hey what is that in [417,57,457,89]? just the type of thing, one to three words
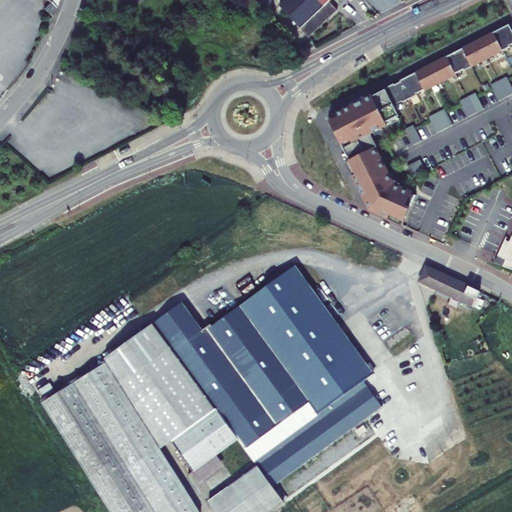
house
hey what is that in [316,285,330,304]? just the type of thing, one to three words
vehicle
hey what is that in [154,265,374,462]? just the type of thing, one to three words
building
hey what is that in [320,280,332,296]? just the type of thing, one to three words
vehicle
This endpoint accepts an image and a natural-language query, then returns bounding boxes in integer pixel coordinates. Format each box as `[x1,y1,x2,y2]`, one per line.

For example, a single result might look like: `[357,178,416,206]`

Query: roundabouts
[208,78,284,154]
